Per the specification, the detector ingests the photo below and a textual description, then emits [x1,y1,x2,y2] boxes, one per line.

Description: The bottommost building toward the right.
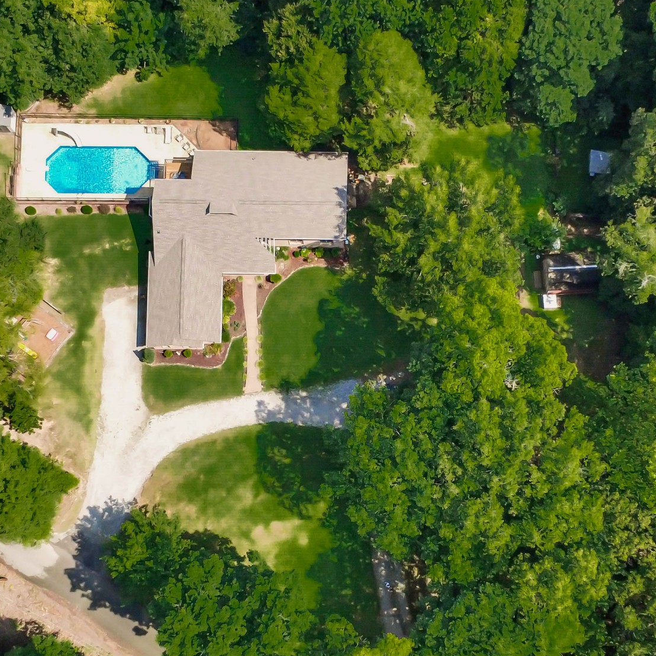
[536,250,601,298]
